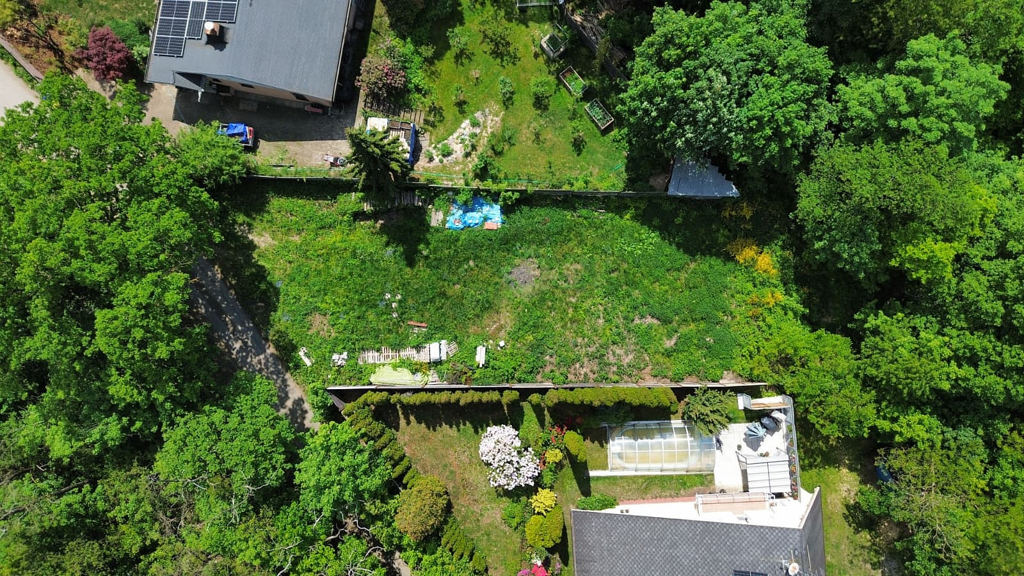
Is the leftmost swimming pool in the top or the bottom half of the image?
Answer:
bottom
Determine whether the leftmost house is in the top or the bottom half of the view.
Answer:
top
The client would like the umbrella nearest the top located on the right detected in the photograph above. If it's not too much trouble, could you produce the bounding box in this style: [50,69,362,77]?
[744,417,769,440]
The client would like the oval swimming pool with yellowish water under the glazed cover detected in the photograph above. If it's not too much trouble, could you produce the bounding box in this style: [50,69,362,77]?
[611,424,709,473]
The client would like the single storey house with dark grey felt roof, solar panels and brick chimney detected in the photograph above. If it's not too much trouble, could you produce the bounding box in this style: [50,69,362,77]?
[144,0,356,110]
